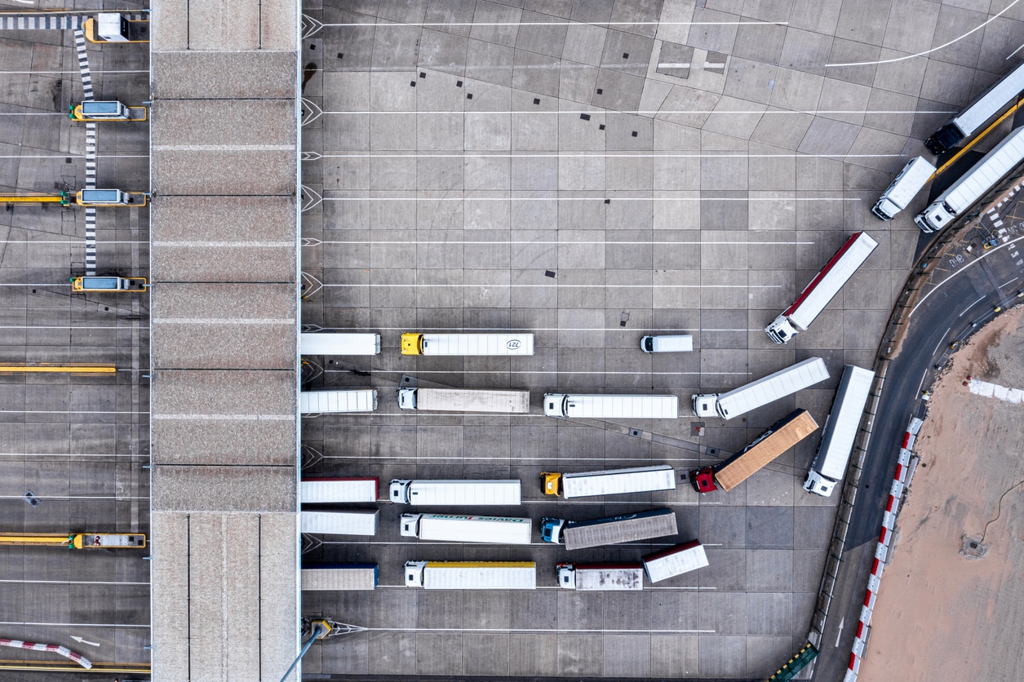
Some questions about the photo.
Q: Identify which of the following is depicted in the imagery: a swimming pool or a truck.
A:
truck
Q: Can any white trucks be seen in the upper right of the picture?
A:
Yes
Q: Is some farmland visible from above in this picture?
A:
No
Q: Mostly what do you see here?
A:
paved ground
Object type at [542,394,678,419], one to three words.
truck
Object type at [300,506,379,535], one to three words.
truck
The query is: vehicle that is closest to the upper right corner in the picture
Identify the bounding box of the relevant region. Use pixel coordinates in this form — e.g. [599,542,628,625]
[921,61,1024,155]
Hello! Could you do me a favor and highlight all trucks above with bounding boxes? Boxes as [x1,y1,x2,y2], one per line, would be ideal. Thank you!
[864,157,936,231]
[541,465,676,499]
[300,334,380,355]
[300,506,379,535]
[691,358,830,420]
[300,476,381,503]
[539,508,678,550]
[800,365,874,500]
[403,559,536,589]
[687,408,818,496]
[396,386,530,412]
[764,231,879,345]
[398,512,532,544]
[389,478,521,505]
[921,61,1024,155]
[300,560,379,590]
[300,388,378,413]
[542,394,678,419]
[912,130,1024,232]
[402,332,534,357]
